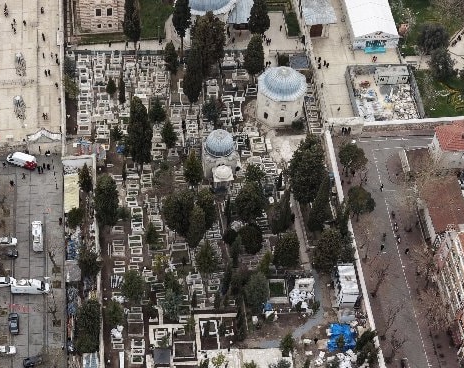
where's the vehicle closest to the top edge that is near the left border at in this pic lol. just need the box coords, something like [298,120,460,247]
[7,150,38,167]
